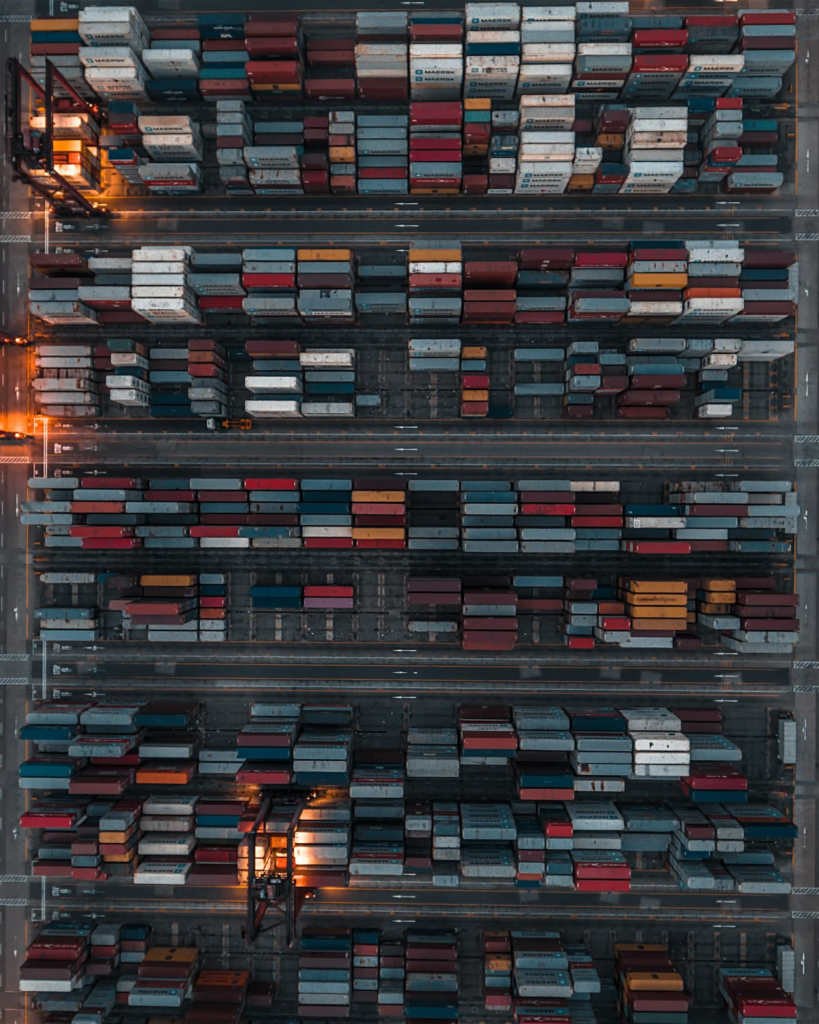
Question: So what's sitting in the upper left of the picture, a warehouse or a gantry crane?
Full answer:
The feature located in the upper left of the picture is a gantry crane.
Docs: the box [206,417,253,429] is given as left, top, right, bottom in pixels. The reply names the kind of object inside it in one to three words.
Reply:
vehicle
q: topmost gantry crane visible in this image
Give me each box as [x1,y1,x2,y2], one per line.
[7,57,103,221]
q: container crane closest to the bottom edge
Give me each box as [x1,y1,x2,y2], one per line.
[242,781,312,938]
